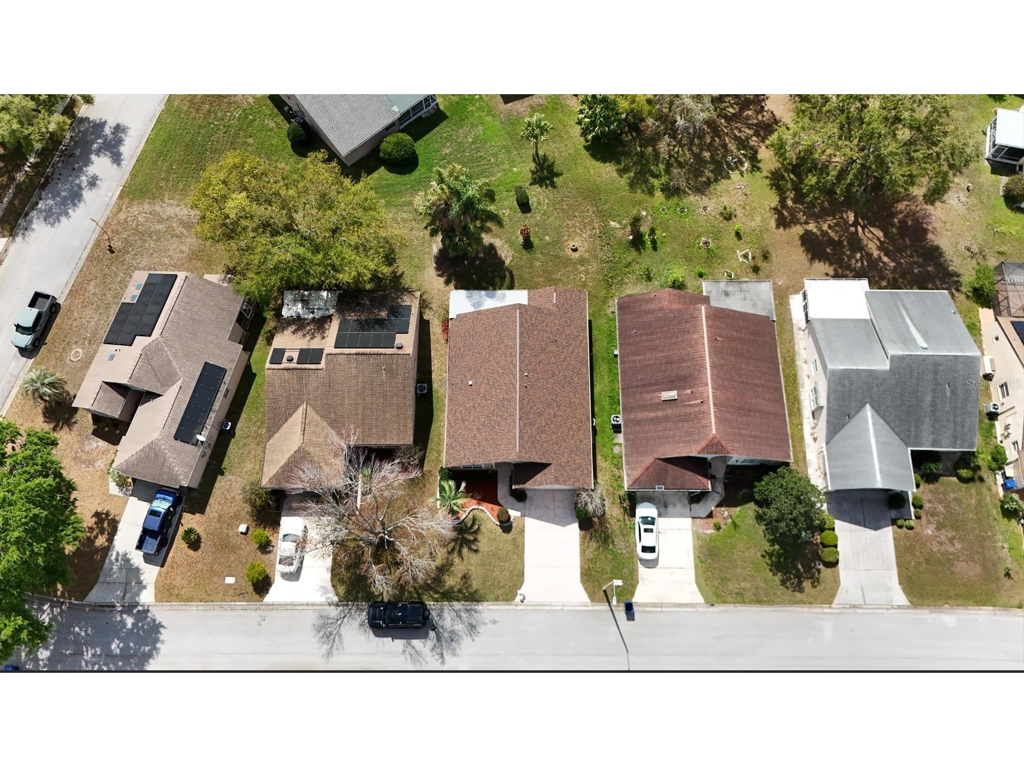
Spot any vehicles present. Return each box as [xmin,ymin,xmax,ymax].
[278,516,306,577]
[18,293,65,354]
[135,488,183,563]
[635,504,661,563]
[369,602,430,632]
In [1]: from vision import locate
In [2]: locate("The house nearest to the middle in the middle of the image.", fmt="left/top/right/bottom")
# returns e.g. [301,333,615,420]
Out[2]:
[445,285,593,490]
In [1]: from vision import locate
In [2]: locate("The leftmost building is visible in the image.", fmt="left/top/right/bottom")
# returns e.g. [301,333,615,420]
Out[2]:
[73,271,255,488]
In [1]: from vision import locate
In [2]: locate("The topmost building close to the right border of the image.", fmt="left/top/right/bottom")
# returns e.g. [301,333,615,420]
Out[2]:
[984,81,1024,172]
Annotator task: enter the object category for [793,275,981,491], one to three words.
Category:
house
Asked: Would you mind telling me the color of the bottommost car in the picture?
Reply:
black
